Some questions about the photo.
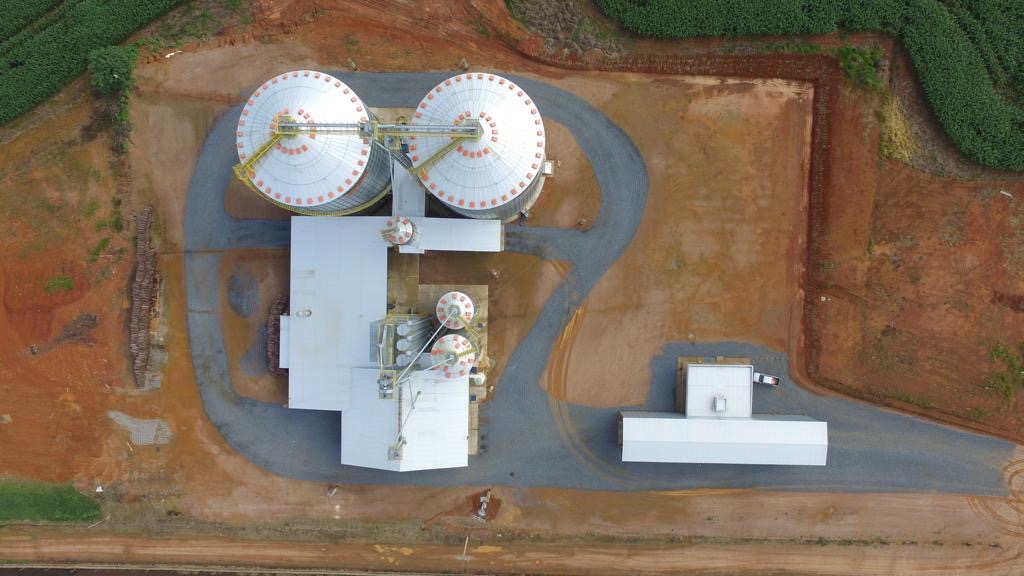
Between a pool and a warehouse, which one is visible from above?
warehouse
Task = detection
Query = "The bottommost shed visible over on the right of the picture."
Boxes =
[616,409,828,466]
